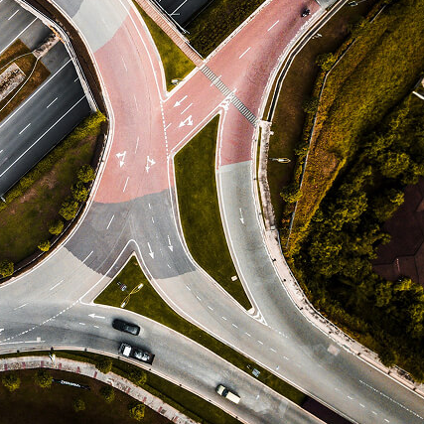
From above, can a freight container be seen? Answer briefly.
No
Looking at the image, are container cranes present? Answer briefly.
No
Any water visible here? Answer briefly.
No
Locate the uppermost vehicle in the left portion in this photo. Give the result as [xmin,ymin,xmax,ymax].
[111,317,140,334]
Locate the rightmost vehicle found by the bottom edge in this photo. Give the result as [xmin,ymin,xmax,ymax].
[214,384,242,404]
